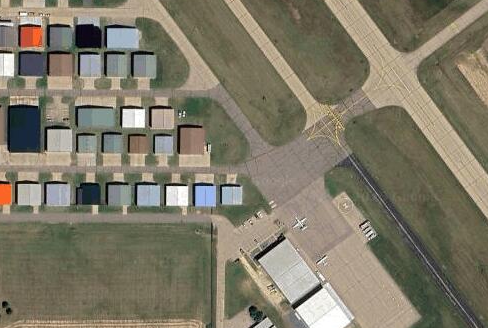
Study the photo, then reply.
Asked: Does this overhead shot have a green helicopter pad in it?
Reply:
No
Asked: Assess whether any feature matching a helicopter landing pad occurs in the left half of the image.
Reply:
No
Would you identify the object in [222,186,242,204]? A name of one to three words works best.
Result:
hangar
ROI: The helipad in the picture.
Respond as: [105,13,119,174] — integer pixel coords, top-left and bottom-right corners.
[334,192,373,242]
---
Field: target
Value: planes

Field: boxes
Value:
[292,217,306,230]
[316,256,327,266]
